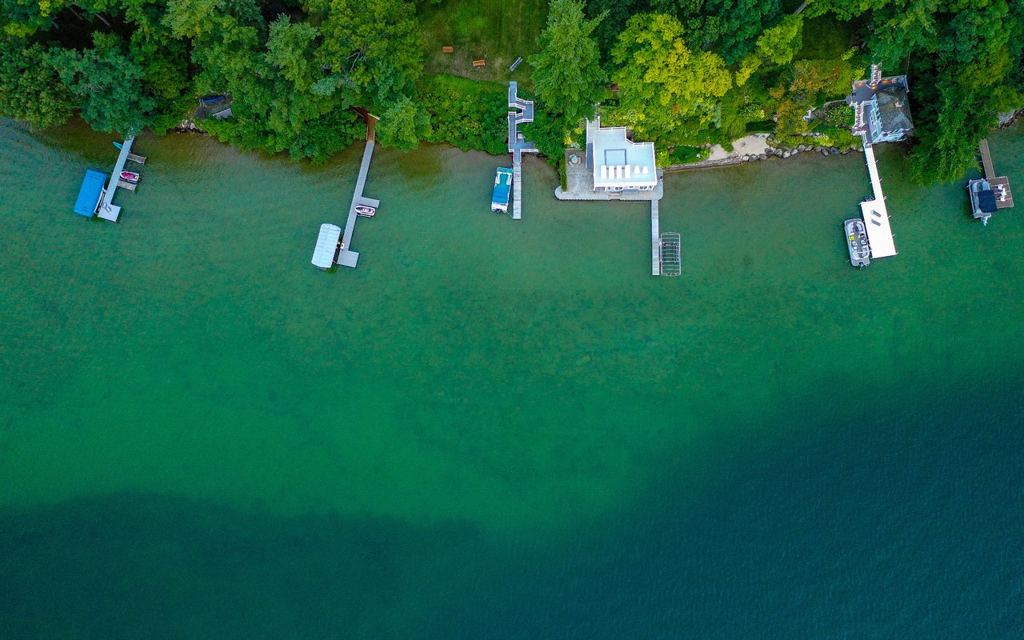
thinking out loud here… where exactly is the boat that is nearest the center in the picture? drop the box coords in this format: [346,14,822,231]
[492,166,513,215]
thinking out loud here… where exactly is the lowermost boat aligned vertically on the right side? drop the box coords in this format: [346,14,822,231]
[846,217,874,270]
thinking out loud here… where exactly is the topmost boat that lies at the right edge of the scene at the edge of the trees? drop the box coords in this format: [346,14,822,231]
[972,178,1002,221]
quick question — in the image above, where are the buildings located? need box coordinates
[870,87,915,142]
[587,115,658,196]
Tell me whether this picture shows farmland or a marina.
marina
